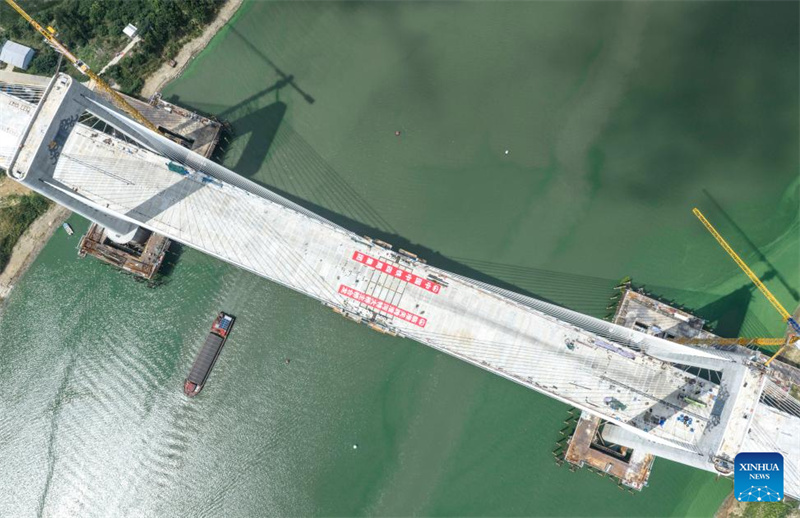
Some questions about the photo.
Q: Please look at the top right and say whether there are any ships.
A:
No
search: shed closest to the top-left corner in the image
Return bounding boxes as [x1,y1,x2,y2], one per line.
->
[0,38,36,70]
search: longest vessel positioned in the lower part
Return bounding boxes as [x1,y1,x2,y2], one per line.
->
[181,309,236,397]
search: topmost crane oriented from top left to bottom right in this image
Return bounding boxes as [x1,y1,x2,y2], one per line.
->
[5,0,170,138]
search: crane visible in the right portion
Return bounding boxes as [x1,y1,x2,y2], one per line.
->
[664,209,800,362]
